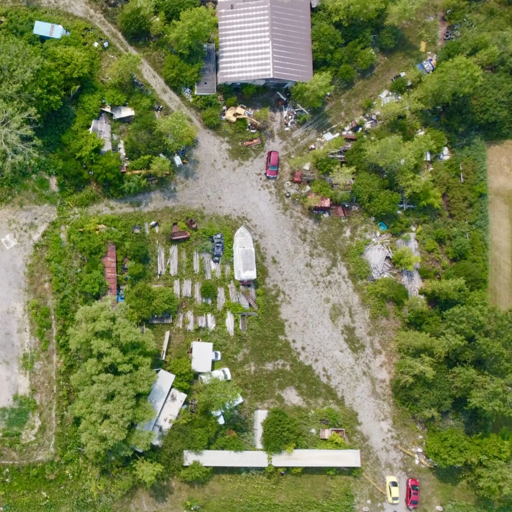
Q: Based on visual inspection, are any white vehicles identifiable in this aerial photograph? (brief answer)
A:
Yes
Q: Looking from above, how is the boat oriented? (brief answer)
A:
up and down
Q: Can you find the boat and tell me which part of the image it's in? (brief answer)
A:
center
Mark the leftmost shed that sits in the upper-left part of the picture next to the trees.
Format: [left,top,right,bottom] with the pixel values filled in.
[94,109,127,156]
